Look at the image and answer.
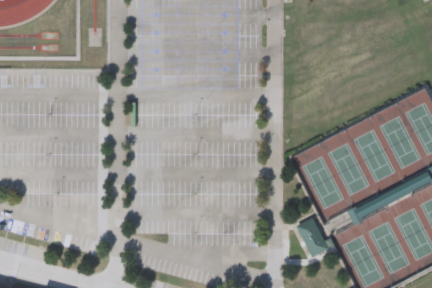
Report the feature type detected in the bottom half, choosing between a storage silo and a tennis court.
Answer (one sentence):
The one visible in the bottom half is a tennis court.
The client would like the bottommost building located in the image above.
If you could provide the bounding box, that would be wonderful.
[298,214,335,256]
